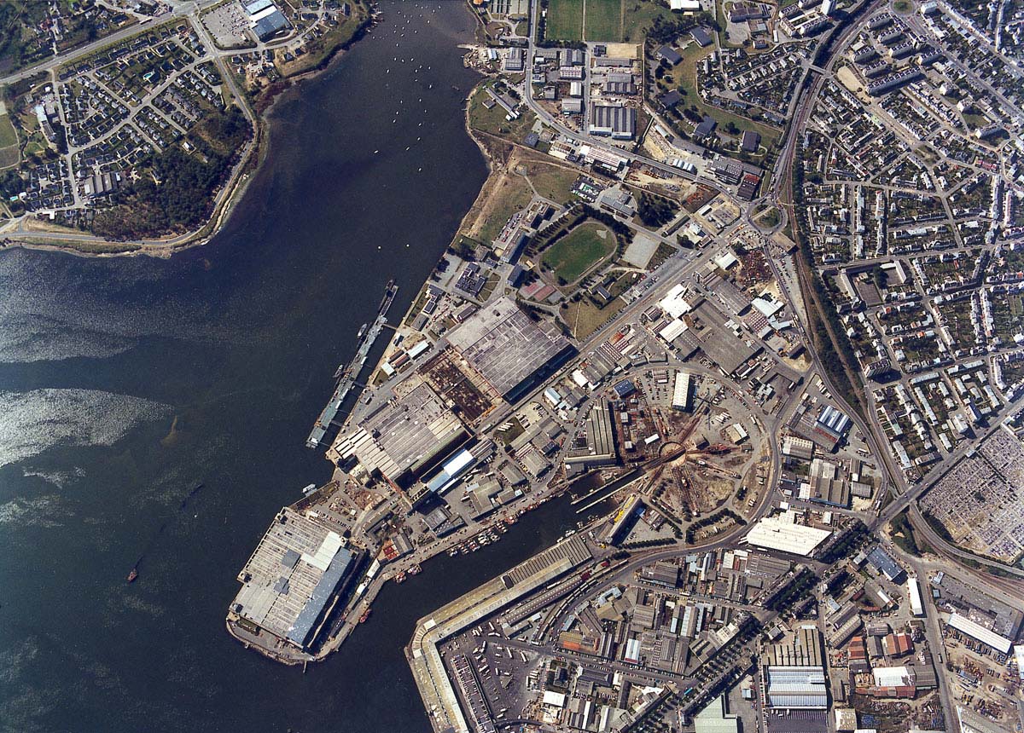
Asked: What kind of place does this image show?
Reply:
port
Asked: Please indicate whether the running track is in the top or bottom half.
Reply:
top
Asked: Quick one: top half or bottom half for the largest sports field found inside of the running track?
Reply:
top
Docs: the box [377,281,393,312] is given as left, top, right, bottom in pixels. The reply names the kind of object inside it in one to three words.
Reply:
ship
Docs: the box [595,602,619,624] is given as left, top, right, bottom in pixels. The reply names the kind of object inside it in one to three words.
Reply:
shed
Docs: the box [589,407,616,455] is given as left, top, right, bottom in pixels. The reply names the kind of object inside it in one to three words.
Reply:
building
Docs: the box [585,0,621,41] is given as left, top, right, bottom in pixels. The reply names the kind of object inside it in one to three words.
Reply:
sports field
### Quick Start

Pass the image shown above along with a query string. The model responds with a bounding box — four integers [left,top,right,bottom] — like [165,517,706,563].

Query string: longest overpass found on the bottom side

[881,477,931,519]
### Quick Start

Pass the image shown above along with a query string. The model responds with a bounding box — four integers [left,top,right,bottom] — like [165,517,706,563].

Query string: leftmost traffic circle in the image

[745,198,790,236]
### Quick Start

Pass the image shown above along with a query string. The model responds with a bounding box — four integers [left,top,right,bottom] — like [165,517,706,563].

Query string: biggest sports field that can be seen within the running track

[546,225,615,280]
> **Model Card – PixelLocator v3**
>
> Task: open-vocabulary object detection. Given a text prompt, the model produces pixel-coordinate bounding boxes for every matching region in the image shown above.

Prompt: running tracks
[542,221,618,284]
